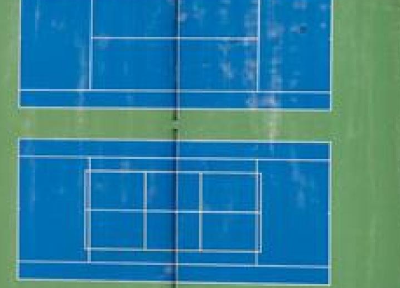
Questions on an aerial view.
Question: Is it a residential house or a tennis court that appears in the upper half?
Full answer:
Visible in the upper half is a tennis court.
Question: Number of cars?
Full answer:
There are no cars in the image.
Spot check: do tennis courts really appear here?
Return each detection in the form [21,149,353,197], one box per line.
[19,0,334,111]
[17,138,331,286]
